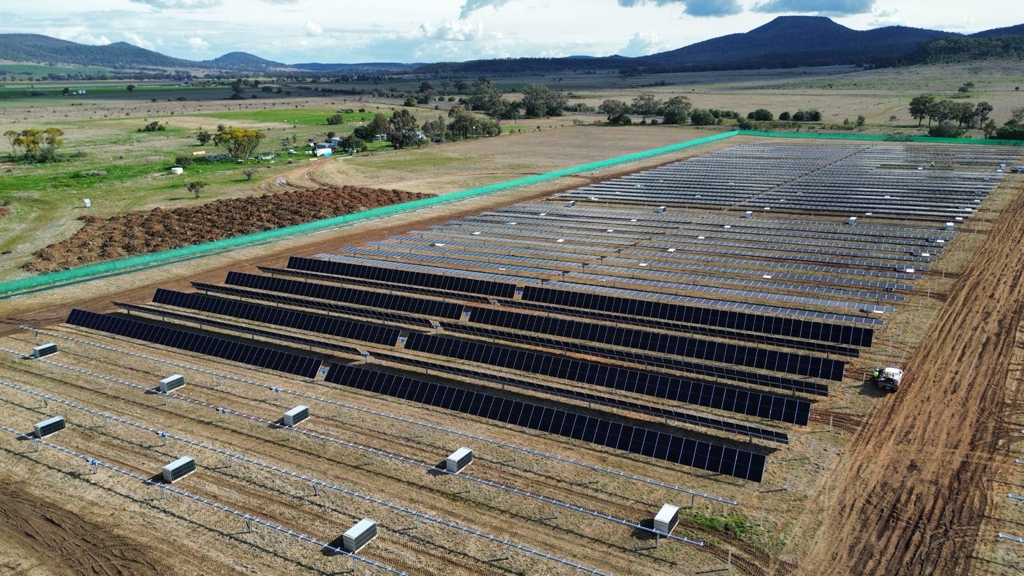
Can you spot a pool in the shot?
No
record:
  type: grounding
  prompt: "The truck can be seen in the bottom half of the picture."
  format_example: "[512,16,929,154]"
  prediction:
[874,362,904,388]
